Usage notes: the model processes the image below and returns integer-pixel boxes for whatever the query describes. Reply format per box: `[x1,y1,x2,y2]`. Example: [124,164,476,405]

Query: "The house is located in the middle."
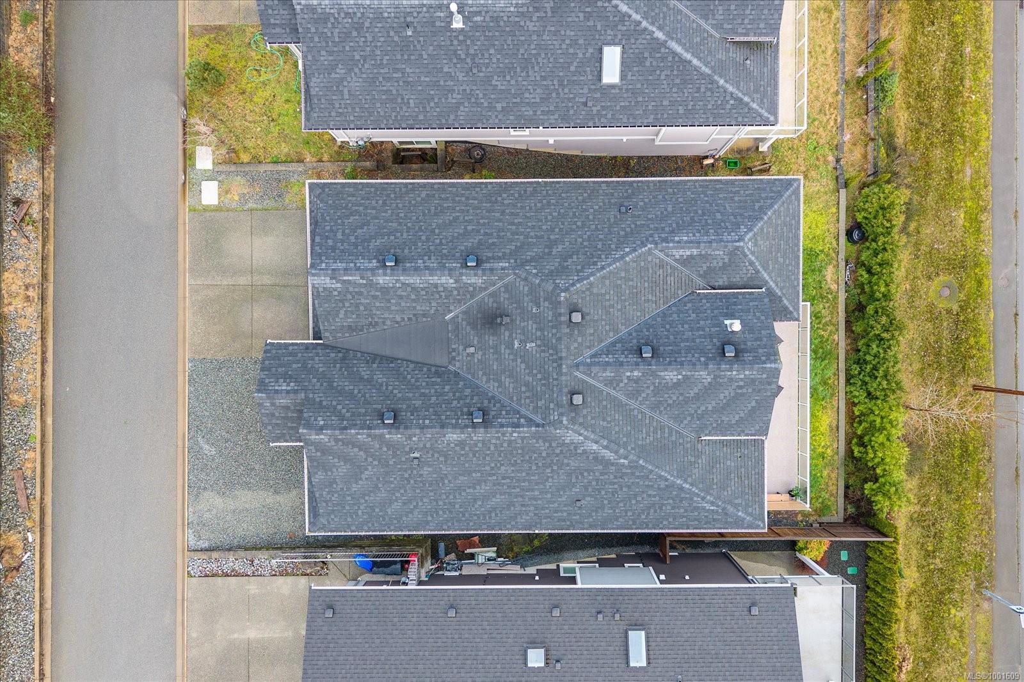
[256,176,817,535]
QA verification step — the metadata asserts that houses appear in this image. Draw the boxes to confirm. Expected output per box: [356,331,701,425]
[259,0,807,164]
[303,549,854,682]
[256,176,817,535]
